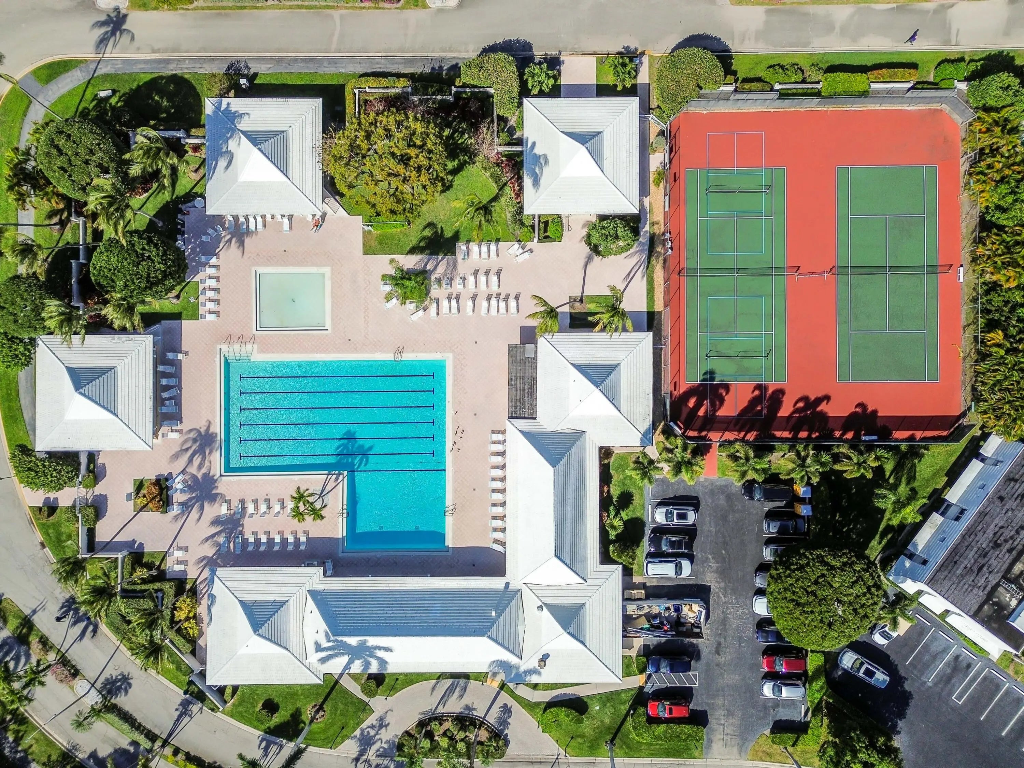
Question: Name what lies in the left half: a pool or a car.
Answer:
pool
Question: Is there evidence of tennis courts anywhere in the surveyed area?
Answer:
Yes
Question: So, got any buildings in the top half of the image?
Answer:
Yes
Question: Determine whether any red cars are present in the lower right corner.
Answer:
Yes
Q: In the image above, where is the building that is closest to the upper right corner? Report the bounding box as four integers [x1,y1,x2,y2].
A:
[523,97,639,214]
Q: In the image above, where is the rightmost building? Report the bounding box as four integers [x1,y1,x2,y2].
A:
[887,434,1024,668]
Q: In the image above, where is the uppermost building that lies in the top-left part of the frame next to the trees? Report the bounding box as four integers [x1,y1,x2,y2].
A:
[205,97,323,215]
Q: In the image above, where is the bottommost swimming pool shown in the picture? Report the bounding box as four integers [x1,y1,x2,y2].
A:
[216,345,454,556]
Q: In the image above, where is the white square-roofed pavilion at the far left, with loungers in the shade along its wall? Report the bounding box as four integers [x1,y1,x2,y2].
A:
[35,335,157,451]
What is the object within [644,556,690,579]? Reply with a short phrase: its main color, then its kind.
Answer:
white car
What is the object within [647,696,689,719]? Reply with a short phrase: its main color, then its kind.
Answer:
red car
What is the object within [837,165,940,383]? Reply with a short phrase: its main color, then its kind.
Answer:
green tennis court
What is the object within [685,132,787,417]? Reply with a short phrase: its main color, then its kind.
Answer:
green tennis court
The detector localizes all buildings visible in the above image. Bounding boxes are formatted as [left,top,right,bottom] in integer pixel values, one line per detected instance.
[523,97,639,214]
[35,335,157,451]
[887,434,1024,668]
[206,332,653,685]
[205,97,323,215]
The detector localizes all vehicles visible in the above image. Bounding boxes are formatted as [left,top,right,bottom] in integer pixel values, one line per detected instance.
[839,649,887,687]
[753,563,785,584]
[762,542,805,561]
[754,625,797,647]
[647,696,689,719]
[742,481,792,504]
[647,533,693,555]
[762,515,804,536]
[647,653,690,676]
[644,556,690,579]
[654,505,697,526]
[760,677,804,700]
[761,652,805,675]
[752,594,779,616]
[868,617,899,643]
